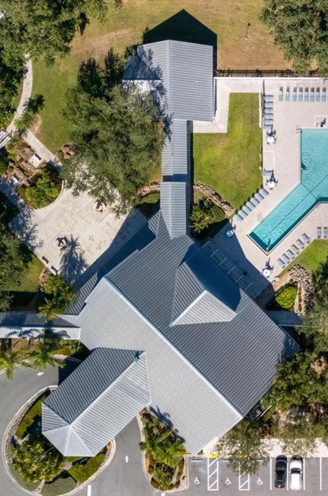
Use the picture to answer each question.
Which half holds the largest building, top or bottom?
bottom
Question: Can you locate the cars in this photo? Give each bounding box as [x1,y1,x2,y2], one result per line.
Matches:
[273,457,287,488]
[288,457,303,488]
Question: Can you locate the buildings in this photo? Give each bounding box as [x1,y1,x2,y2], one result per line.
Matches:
[42,210,299,455]
[121,39,213,122]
